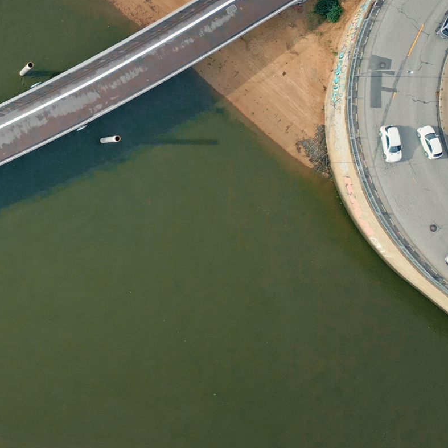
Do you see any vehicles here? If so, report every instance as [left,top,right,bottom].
[418,123,447,161]
[437,10,448,42]
[380,124,405,164]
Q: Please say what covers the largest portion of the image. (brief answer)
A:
water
